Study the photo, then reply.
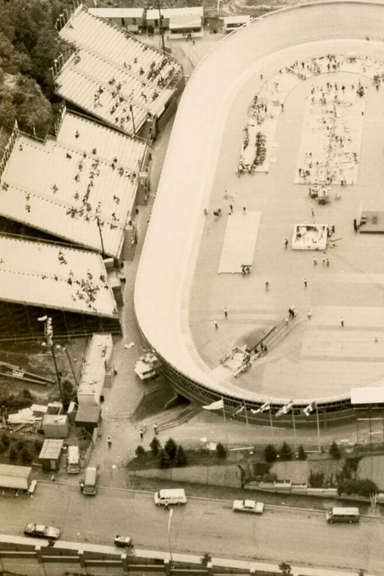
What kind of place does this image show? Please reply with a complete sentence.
It's a sports ground.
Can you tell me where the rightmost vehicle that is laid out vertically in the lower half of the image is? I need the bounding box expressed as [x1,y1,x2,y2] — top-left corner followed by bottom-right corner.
[80,457,97,493]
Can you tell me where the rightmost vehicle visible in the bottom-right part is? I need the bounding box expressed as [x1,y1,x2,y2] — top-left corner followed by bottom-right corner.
[327,509,360,527]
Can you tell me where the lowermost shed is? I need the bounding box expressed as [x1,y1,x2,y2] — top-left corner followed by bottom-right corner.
[39,439,63,471]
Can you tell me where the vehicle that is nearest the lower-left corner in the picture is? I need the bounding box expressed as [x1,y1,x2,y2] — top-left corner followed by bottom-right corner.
[22,525,62,542]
